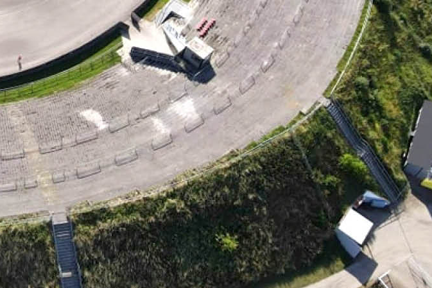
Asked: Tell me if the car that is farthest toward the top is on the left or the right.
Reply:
right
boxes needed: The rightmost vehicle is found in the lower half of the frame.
[363,193,394,215]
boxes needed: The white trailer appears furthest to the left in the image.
[331,208,374,254]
